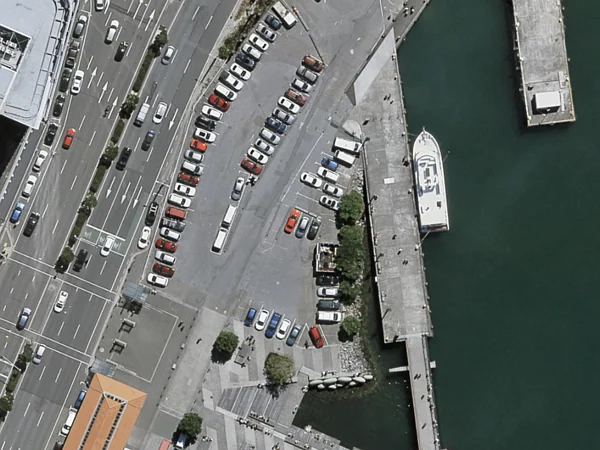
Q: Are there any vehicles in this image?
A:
Yes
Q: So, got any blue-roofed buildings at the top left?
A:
No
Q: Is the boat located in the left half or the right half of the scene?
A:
right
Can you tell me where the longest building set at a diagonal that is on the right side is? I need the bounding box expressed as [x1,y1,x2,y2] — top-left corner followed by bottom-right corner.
[345,28,395,106]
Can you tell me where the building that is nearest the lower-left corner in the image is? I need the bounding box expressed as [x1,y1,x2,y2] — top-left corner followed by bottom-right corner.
[64,373,147,450]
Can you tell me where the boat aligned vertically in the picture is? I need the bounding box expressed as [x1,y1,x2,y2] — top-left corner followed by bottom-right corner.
[413,126,449,232]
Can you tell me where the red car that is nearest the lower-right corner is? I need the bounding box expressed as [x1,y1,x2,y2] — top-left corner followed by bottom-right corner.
[309,326,323,347]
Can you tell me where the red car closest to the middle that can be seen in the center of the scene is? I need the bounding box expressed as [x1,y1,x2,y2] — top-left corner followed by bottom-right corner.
[285,208,300,231]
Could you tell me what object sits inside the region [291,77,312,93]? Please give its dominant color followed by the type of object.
white car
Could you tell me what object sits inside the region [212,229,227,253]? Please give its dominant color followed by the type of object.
white vehicle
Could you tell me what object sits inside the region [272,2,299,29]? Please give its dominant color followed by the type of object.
white truck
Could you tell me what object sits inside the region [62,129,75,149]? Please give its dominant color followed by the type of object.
red vehicle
